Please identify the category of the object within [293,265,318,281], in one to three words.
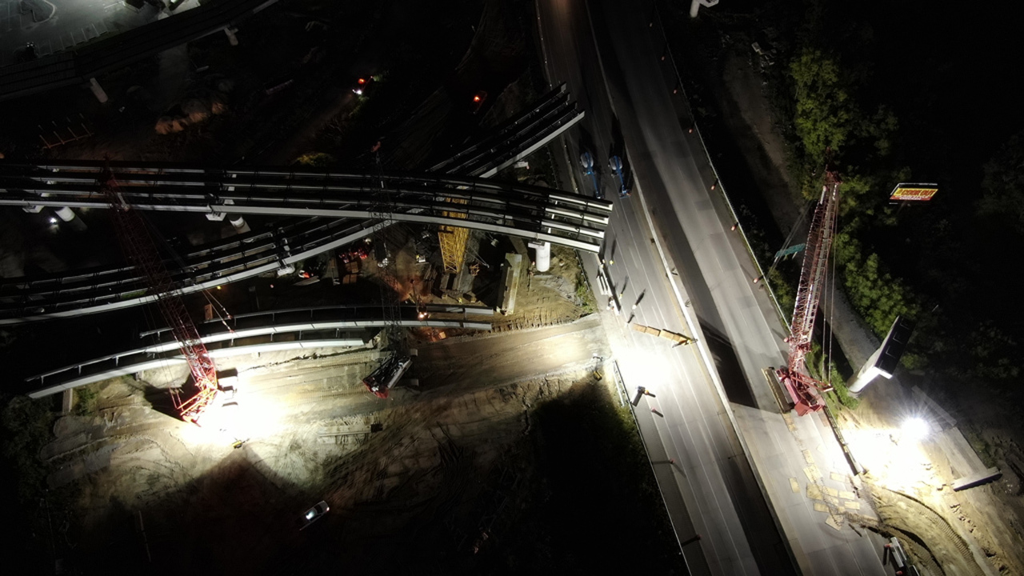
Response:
work vehicle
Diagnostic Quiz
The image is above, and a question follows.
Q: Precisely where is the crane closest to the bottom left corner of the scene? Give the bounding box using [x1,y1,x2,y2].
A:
[104,165,221,427]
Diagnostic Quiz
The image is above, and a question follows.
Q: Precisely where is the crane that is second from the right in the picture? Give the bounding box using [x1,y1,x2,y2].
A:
[440,185,487,294]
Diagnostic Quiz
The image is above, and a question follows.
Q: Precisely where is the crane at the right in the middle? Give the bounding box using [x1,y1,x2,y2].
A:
[775,168,840,416]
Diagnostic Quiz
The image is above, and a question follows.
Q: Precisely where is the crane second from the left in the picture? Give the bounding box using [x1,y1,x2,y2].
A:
[364,140,418,392]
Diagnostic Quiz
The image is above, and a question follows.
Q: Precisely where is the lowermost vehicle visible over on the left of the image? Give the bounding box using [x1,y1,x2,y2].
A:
[296,500,329,529]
